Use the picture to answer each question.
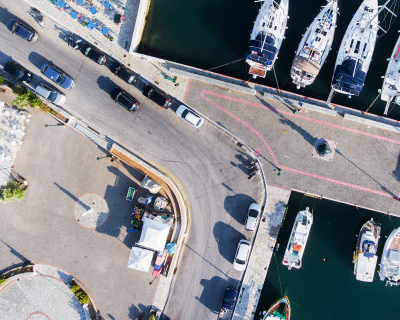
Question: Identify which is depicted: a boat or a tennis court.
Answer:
boat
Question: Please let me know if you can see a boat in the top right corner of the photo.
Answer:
Yes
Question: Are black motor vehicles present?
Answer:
Yes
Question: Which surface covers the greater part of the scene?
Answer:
paved ground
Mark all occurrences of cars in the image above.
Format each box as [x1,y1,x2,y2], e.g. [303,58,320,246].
[245,202,262,232]
[109,62,141,87]
[233,238,252,270]
[175,103,207,130]
[78,41,109,66]
[142,84,175,112]
[5,18,40,44]
[38,60,78,90]
[32,82,68,108]
[216,285,238,320]
[109,84,143,114]
[1,59,35,85]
